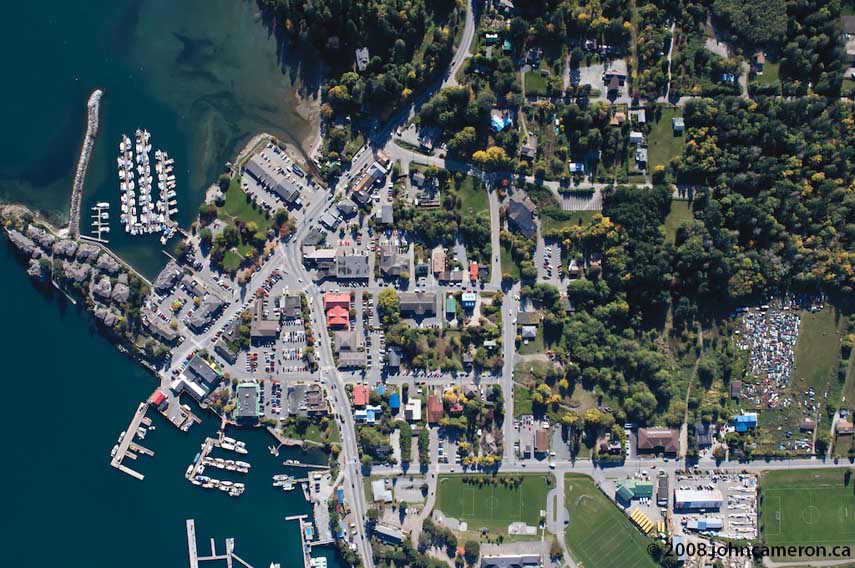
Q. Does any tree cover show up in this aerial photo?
Yes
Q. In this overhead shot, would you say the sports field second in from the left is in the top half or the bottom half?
bottom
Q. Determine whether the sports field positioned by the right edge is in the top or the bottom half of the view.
bottom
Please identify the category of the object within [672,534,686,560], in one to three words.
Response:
building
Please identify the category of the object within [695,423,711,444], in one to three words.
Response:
house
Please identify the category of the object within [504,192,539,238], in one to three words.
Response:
building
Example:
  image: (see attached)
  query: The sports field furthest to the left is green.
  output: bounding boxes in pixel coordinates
[433,473,551,535]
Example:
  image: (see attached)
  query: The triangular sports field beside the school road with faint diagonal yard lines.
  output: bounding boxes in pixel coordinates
[565,473,655,568]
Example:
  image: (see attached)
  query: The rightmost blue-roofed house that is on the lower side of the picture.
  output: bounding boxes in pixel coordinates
[733,411,757,433]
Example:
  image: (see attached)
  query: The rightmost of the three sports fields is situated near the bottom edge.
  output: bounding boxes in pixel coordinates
[761,468,855,562]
